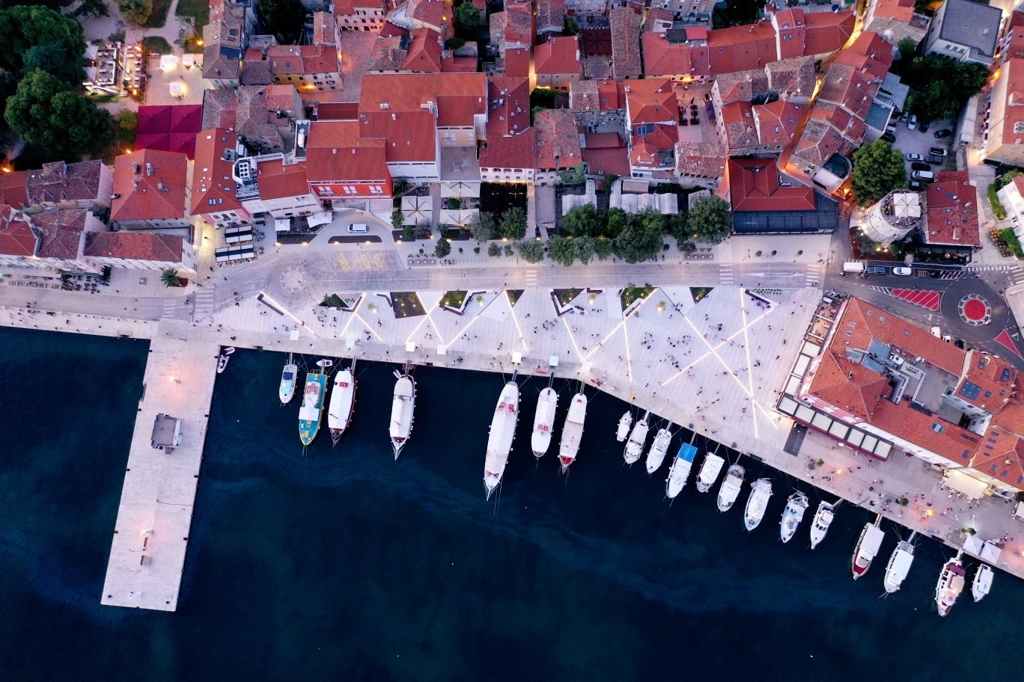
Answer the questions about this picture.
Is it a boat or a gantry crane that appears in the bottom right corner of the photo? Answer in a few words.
boat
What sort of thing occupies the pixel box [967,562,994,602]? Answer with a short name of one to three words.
boat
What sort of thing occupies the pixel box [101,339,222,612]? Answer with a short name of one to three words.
pier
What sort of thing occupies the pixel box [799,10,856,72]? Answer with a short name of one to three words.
house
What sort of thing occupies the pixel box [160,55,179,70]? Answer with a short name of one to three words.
umbrella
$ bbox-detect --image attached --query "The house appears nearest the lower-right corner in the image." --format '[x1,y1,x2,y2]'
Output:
[952,426,1024,494]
